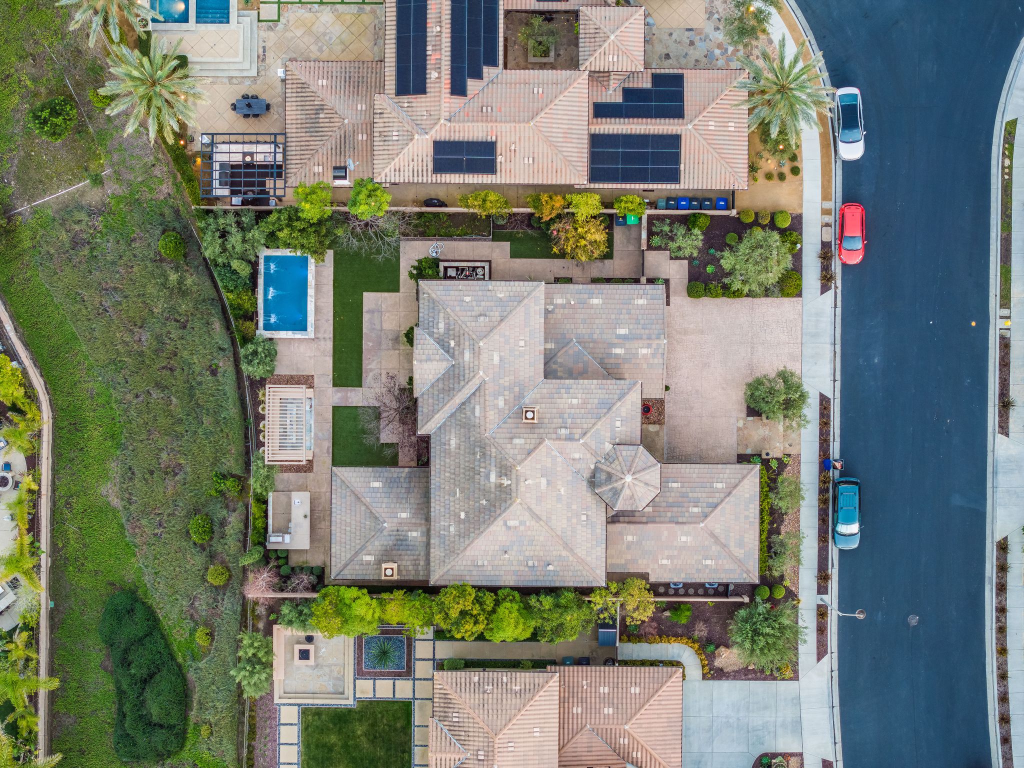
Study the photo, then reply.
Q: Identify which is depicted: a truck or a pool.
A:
pool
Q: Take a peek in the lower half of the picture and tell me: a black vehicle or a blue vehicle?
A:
blue vehicle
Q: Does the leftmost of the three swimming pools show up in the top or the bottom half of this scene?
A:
top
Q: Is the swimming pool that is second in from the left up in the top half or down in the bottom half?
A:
top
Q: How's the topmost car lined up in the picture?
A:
vertically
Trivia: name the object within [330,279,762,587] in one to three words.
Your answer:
house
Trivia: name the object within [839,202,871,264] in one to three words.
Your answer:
car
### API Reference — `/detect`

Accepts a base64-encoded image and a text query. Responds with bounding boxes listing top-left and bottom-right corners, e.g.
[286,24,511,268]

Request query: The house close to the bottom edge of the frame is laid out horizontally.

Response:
[428,664,685,768]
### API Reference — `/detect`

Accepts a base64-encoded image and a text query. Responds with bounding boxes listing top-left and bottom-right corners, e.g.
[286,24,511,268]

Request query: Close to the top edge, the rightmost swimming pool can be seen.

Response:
[195,0,238,30]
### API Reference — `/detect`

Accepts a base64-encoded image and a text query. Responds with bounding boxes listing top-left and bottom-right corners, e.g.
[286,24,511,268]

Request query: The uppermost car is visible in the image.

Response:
[835,86,870,160]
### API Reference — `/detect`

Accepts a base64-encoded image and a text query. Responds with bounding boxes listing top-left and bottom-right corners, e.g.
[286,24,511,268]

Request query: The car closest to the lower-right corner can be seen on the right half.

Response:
[833,478,867,552]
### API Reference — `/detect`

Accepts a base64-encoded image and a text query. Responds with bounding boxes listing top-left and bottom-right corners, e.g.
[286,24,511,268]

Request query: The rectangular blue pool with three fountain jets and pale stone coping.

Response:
[257,249,315,338]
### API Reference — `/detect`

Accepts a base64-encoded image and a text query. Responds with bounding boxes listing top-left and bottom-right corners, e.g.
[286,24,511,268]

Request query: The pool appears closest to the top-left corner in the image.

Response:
[146,0,195,30]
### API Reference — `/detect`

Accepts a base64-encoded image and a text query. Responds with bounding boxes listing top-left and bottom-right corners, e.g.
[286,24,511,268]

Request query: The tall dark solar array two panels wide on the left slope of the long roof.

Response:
[396,0,428,95]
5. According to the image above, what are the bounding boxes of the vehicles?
[839,202,871,264]
[835,86,870,160]
[833,478,867,552]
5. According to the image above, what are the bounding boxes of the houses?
[428,664,685,768]
[330,279,762,587]
[284,0,750,191]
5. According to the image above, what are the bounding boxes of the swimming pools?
[146,0,195,30]
[257,249,315,338]
[195,0,238,30]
